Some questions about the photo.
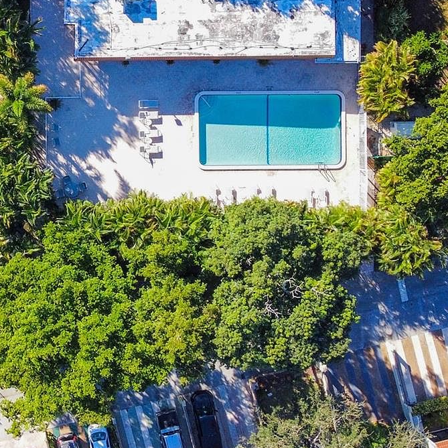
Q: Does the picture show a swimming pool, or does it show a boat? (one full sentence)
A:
Looking from above, you can make out a swimming pool.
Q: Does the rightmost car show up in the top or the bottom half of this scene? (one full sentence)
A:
You can find the rightmost car in the bottom half.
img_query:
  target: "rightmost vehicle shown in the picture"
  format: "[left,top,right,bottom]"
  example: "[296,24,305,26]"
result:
[190,389,221,448]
